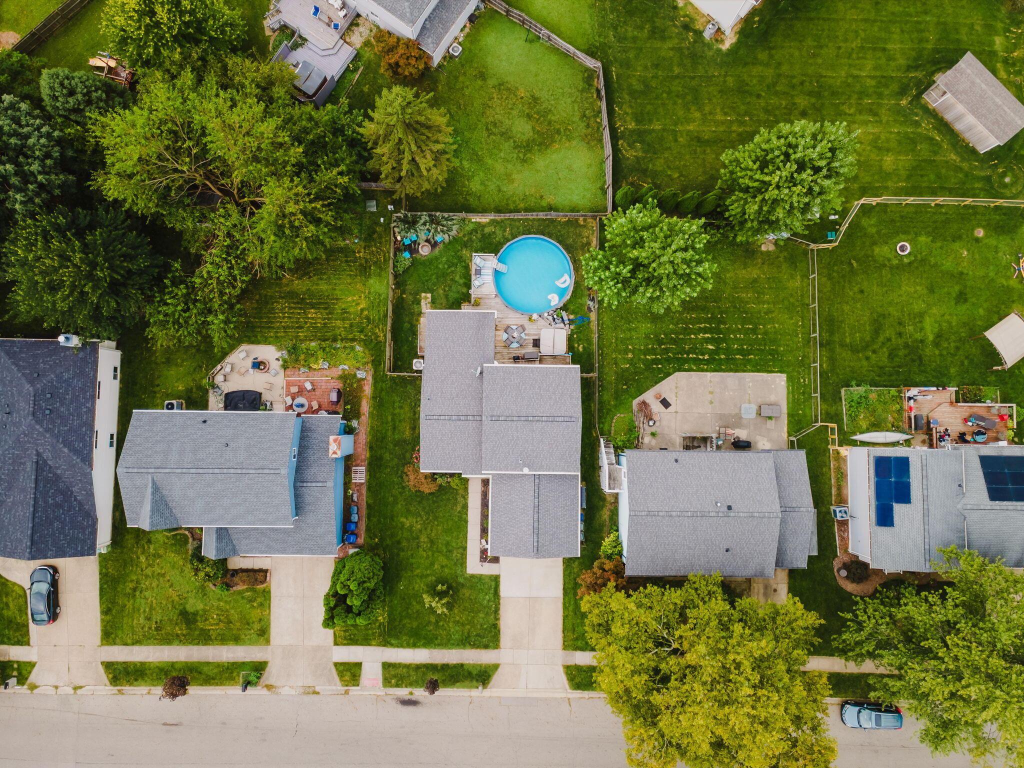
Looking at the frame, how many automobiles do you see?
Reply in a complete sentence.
I count 2 automobiles.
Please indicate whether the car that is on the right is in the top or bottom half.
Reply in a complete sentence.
Seen from above, the car that is on the right lies in the bottom half of the view.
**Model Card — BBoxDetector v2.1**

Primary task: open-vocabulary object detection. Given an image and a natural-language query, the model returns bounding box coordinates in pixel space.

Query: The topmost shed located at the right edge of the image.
[923,51,1024,154]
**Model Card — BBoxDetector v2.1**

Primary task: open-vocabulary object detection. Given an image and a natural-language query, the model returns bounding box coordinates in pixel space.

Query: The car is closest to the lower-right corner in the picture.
[840,695,904,728]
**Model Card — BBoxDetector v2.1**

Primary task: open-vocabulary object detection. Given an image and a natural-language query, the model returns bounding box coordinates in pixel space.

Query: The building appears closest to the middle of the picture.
[420,310,582,559]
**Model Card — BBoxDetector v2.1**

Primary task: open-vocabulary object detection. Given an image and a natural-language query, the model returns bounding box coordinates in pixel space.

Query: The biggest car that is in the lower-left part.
[28,566,62,627]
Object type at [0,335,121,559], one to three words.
house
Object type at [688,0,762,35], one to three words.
house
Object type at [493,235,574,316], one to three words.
swimming pool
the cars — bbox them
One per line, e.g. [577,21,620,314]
[840,695,904,728]
[28,566,62,627]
